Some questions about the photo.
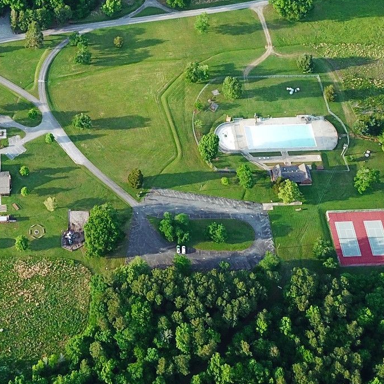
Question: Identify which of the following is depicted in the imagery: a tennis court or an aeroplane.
tennis court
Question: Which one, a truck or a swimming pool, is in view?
swimming pool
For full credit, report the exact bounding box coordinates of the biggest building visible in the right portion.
[272,162,314,186]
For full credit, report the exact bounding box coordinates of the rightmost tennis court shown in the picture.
[364,220,384,256]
